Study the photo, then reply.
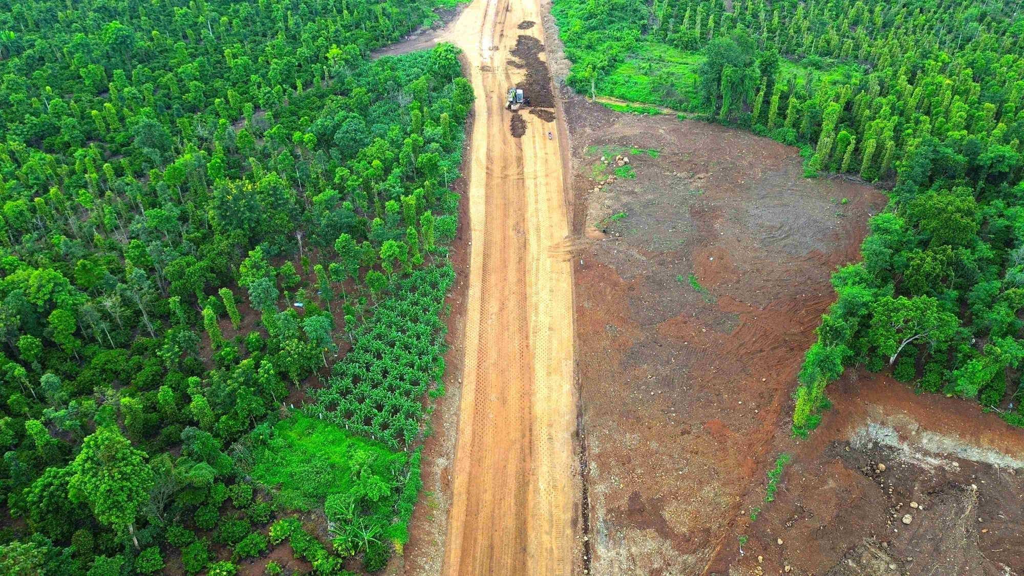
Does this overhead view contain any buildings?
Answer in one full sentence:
No, there isn't any building down there.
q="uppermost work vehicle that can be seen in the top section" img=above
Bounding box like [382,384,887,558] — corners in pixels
[507,81,523,108]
